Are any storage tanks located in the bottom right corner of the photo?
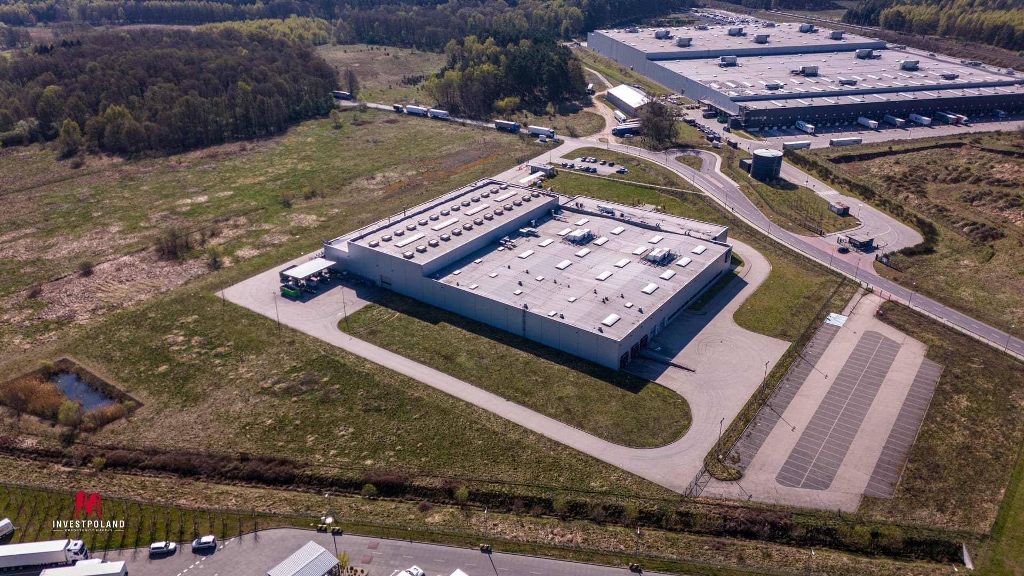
No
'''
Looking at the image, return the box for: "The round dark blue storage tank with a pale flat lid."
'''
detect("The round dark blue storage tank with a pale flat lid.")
[745,146,785,185]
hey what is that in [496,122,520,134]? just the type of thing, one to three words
vehicle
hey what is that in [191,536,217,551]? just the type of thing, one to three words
car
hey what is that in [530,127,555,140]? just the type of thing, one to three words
vehicle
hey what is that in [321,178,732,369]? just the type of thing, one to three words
building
